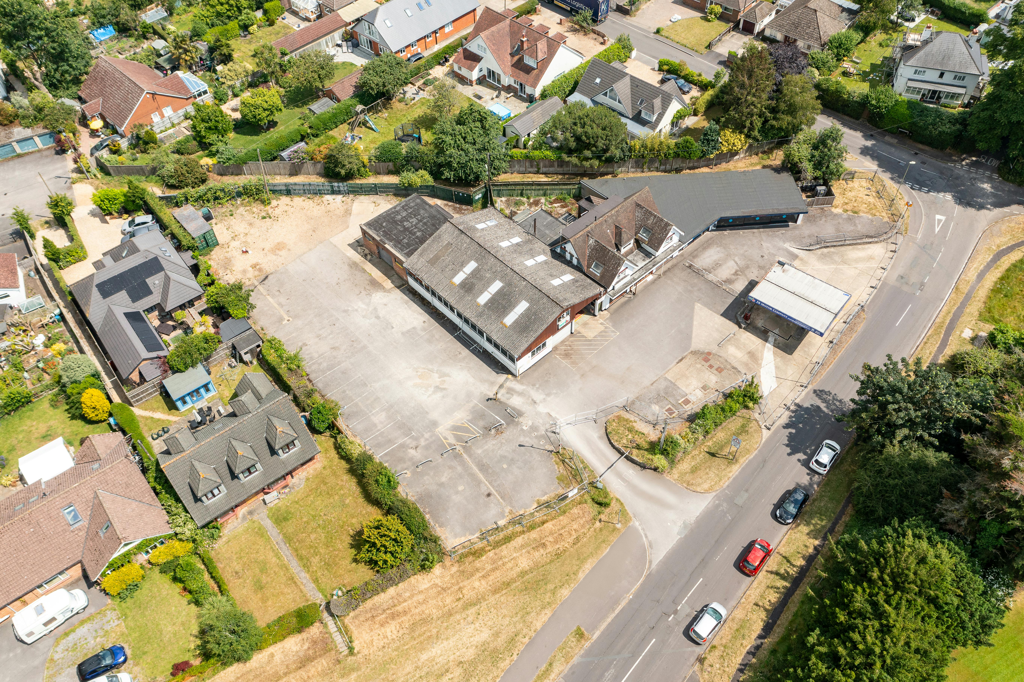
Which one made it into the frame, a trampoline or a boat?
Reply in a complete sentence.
Of the two, only a trampoline appears.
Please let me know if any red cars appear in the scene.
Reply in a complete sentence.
Yes, a red car appears in the view.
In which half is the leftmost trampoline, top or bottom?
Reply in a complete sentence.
You can find the leftmost trampoline in the top half.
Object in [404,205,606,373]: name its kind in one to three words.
building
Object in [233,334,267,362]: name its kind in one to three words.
shed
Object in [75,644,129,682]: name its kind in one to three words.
car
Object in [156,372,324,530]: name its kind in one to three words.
house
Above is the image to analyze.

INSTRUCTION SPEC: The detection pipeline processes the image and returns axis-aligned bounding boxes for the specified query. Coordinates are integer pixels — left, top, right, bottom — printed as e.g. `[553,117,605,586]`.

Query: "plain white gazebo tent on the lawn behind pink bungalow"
[18,442,76,488]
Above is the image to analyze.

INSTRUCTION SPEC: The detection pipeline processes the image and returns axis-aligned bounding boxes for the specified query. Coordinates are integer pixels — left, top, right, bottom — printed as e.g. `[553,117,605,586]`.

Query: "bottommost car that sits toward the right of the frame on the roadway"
[689,601,727,647]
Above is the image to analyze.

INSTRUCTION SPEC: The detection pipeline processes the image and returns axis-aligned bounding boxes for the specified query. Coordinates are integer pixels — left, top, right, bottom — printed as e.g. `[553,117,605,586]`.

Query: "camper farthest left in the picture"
[14,592,91,641]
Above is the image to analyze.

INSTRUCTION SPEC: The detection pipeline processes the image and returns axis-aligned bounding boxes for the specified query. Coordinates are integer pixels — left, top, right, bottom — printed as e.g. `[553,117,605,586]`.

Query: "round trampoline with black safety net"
[393,119,421,145]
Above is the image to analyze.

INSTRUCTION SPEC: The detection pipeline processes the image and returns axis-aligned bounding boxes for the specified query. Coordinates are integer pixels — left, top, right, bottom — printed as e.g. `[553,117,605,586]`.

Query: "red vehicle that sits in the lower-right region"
[739,538,771,578]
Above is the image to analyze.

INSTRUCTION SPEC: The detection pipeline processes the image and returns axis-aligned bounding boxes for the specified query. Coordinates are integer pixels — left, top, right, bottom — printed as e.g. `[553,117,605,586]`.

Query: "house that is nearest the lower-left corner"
[0,431,175,623]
